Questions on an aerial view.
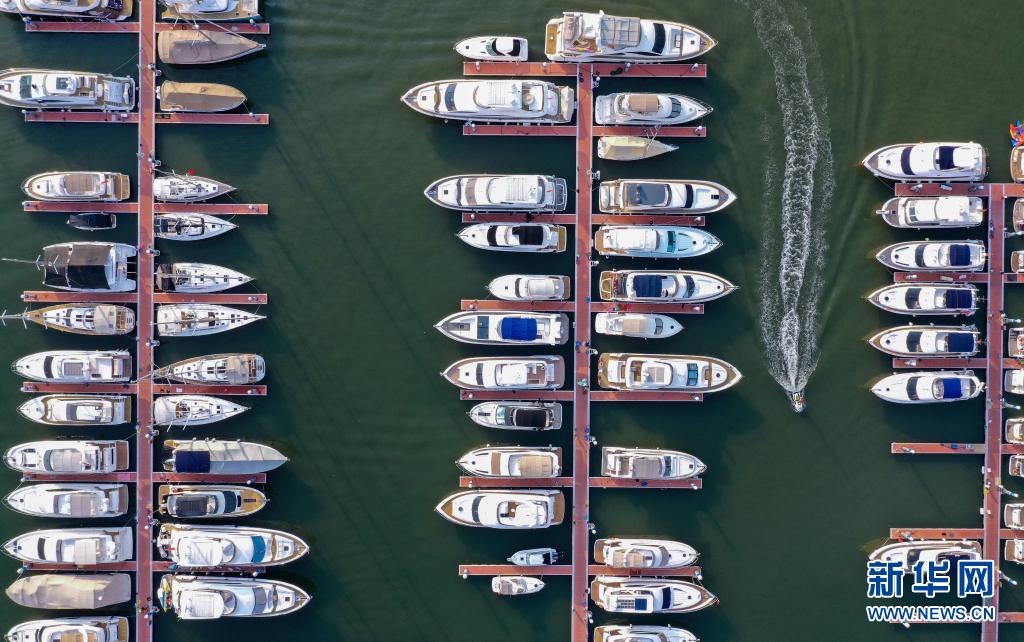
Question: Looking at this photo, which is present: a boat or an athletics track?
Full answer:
There is a boat in the scene.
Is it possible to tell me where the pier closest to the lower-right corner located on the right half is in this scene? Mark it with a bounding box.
[888,182,1024,642]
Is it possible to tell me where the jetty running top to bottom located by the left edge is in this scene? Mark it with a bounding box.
[23,0,270,642]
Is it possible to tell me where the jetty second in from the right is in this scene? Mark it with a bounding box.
[459,61,706,642]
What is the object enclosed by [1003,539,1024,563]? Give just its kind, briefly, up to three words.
boat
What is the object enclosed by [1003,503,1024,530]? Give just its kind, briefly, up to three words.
boat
